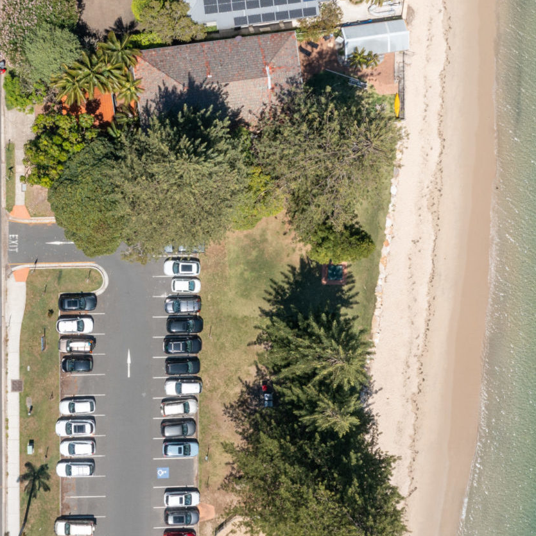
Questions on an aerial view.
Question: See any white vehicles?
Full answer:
Yes, the image includes a white vehicle.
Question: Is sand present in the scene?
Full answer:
Yes, the picture does contain sand.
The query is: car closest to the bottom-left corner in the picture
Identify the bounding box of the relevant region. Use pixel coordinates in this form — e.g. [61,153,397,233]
[56,517,96,535]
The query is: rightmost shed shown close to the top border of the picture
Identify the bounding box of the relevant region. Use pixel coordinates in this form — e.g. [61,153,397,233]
[339,19,409,61]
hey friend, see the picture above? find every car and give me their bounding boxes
[170,276,201,294]
[161,398,199,417]
[164,297,201,314]
[163,507,200,525]
[58,440,95,457]
[60,294,98,312]
[164,258,202,278]
[163,488,200,506]
[161,419,197,437]
[167,317,204,335]
[57,418,95,437]
[57,459,95,479]
[164,357,200,376]
[164,378,202,397]
[57,316,95,335]
[60,336,99,355]
[162,440,199,457]
[56,517,96,535]
[61,356,95,374]
[60,397,96,415]
[163,337,201,356]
